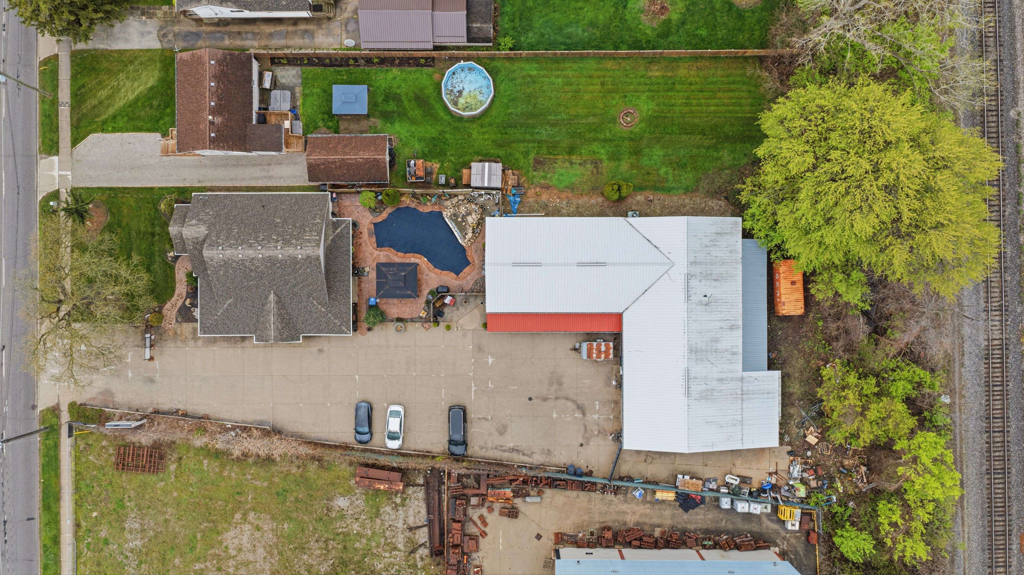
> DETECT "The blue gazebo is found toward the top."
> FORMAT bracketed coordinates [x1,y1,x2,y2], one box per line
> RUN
[332,84,371,120]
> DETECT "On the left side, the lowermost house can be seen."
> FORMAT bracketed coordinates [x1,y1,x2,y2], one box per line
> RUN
[169,192,355,344]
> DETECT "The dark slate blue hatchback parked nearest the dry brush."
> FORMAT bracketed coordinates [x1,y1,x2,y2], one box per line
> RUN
[353,401,374,443]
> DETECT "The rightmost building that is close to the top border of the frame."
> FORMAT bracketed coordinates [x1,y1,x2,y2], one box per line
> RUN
[359,0,494,54]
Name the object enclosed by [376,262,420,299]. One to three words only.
gazebo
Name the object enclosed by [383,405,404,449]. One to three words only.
car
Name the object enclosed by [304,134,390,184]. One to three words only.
building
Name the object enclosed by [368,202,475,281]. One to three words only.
swimming pool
